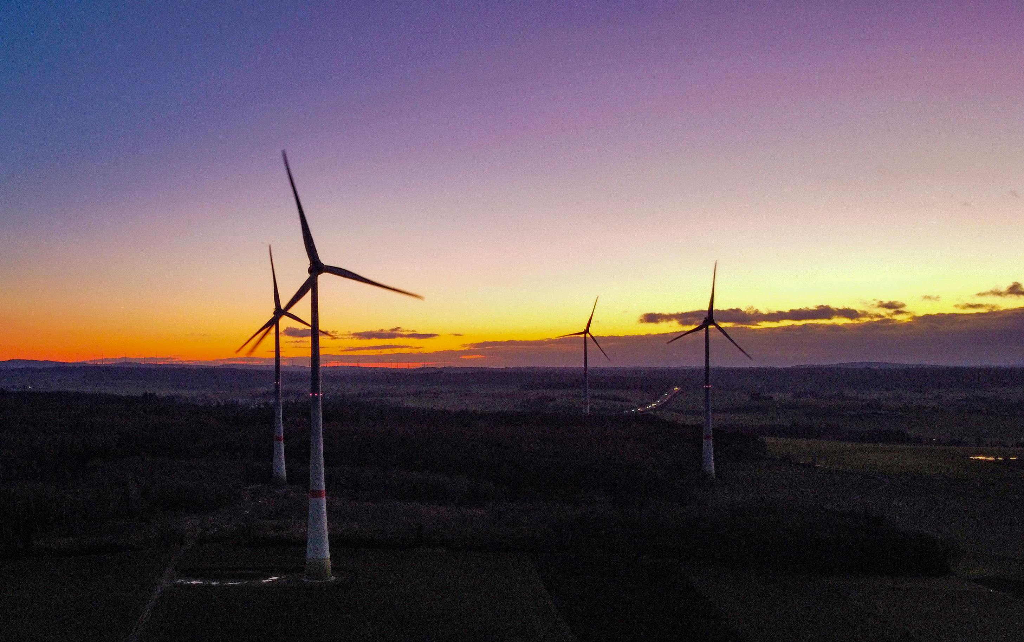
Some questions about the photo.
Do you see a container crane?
No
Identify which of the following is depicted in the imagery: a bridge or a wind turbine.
wind turbine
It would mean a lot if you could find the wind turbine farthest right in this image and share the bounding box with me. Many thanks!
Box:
[664,261,753,479]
